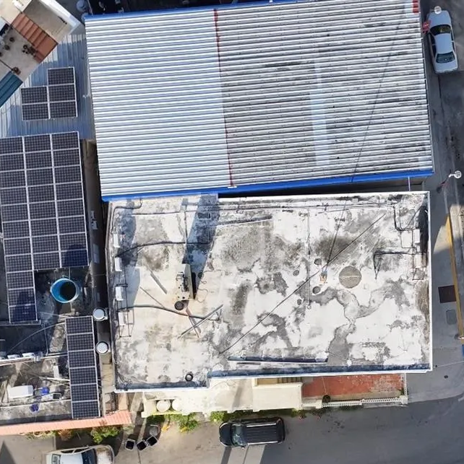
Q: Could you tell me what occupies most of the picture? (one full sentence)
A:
Most of the picture is covered by buildings.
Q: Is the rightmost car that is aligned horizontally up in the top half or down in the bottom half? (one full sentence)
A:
You can find the rightmost car that is aligned horizontally in the bottom half.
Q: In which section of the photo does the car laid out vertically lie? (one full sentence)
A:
The car laid out vertically sits in the top right section of the image.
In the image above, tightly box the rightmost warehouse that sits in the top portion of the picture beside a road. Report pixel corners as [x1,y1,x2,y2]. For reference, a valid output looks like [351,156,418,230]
[84,0,435,201]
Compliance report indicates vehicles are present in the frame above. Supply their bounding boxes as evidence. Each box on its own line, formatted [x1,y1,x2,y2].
[218,419,286,453]
[428,6,458,73]
[44,446,114,464]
